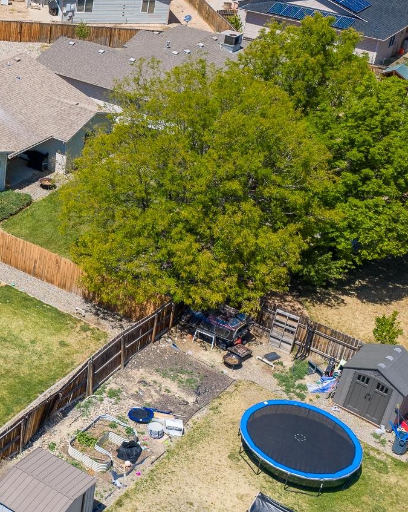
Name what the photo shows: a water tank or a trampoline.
trampoline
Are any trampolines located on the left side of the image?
Yes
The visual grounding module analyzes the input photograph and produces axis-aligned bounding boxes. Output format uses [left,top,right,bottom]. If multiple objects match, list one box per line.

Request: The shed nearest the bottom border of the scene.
[0,446,94,512]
